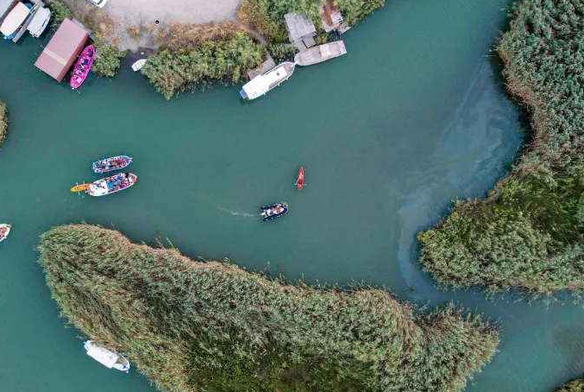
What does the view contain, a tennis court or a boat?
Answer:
boat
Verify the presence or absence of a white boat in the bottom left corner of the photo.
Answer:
Yes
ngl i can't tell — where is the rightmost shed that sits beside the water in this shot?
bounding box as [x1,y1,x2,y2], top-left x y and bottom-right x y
[319,0,343,33]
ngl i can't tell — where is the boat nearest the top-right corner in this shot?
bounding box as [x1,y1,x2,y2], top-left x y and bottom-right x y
[294,39,348,64]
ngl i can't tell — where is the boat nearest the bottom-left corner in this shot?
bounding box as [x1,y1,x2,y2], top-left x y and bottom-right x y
[84,340,129,369]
